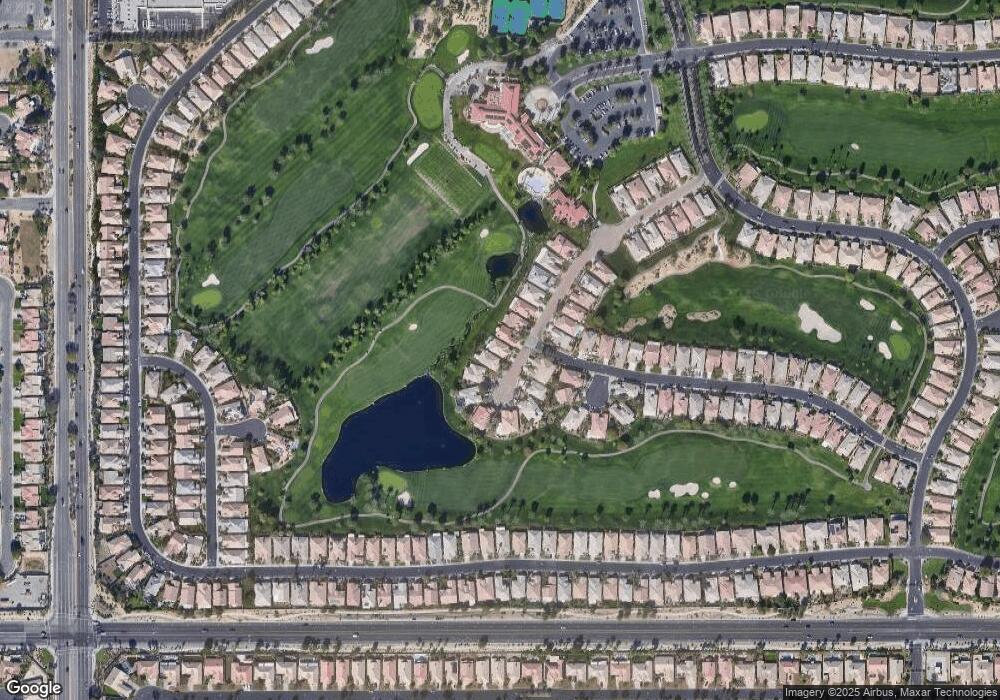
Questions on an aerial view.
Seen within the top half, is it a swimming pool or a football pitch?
swimming pool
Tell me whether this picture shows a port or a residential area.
residential area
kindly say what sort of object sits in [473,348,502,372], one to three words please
house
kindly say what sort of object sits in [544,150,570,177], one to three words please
building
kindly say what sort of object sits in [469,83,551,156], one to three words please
building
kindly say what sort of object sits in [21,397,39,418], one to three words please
house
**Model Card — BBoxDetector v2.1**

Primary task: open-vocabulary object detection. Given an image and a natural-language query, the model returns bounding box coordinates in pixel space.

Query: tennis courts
[547,0,565,20]
[509,0,528,34]
[530,0,547,18]
[491,0,509,31]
